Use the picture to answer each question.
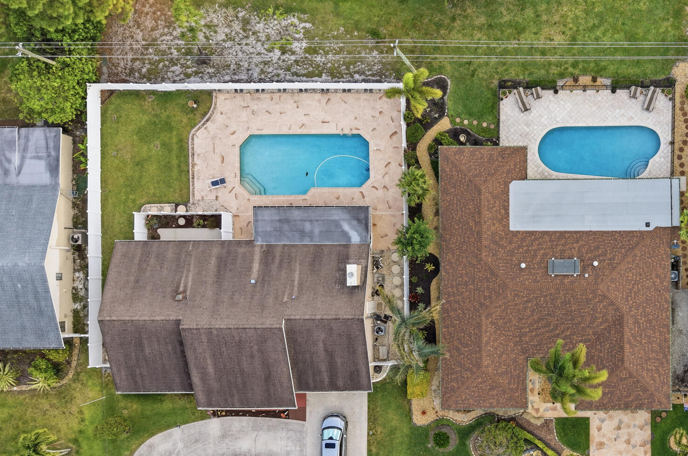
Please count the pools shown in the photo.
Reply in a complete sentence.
The picture shows 2 pools.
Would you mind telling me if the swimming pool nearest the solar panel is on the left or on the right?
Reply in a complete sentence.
You can find the swimming pool nearest the solar panel on the right side of the picture.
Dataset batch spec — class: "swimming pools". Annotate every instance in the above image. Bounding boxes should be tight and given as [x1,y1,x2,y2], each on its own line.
[236,130,374,199]
[532,119,666,179]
